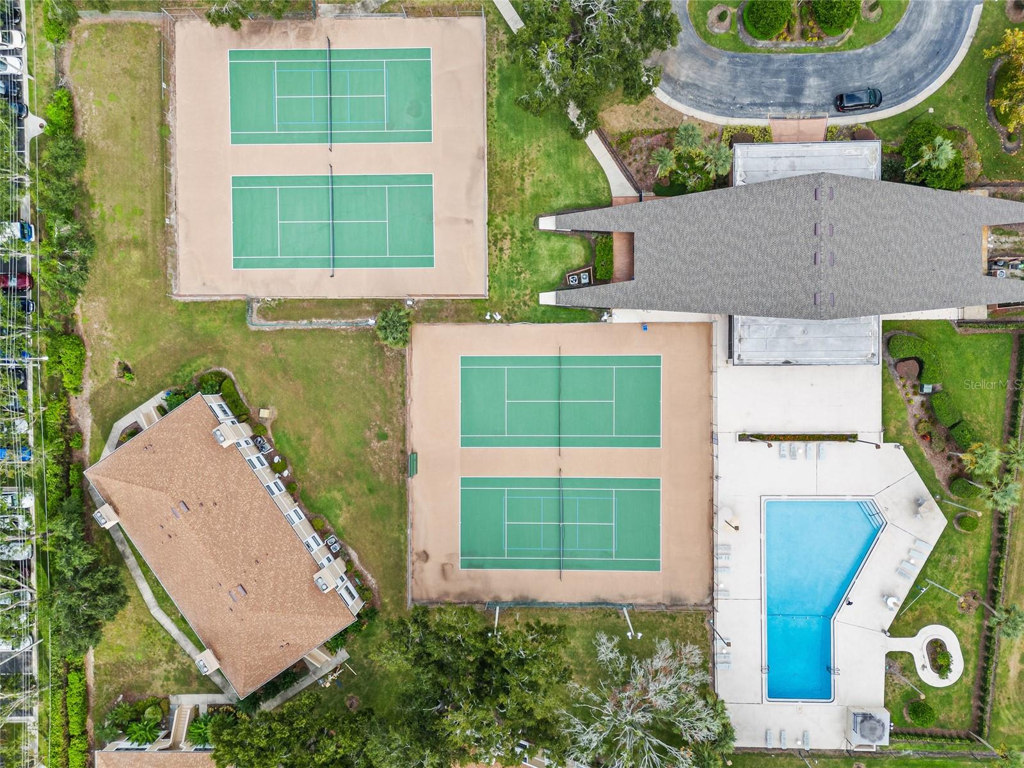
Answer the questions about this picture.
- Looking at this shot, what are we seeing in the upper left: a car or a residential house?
car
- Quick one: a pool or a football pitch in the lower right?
pool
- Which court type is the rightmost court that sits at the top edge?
tennis court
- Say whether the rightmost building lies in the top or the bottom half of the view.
top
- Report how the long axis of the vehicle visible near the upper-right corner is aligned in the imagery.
horizontally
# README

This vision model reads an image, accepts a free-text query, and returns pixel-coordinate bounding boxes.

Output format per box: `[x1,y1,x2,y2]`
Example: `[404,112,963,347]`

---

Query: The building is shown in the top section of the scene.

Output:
[542,140,1024,365]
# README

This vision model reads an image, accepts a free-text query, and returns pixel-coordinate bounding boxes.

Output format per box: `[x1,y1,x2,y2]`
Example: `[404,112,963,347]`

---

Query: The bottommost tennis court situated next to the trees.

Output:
[458,469,663,581]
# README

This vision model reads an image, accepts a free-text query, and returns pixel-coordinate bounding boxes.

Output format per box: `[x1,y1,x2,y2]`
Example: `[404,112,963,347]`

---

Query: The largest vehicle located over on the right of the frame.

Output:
[837,85,884,111]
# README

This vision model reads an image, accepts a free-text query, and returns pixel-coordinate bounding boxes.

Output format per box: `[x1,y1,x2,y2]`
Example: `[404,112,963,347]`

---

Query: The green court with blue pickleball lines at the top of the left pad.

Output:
[228,38,433,151]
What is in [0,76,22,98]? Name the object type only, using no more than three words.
car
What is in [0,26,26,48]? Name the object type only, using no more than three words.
car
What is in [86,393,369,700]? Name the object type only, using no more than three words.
house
